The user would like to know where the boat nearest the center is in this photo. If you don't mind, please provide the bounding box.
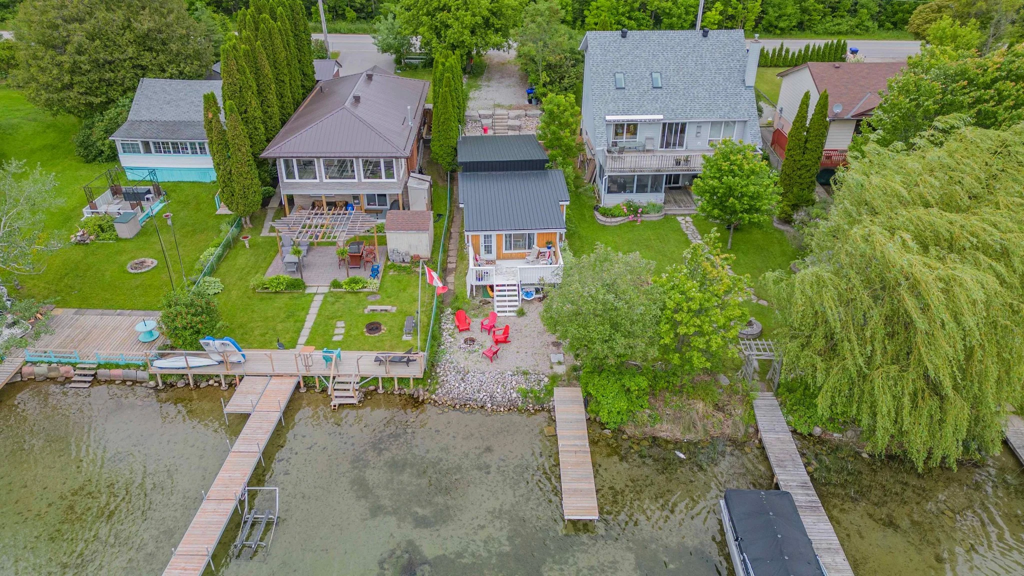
[520,286,538,306]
